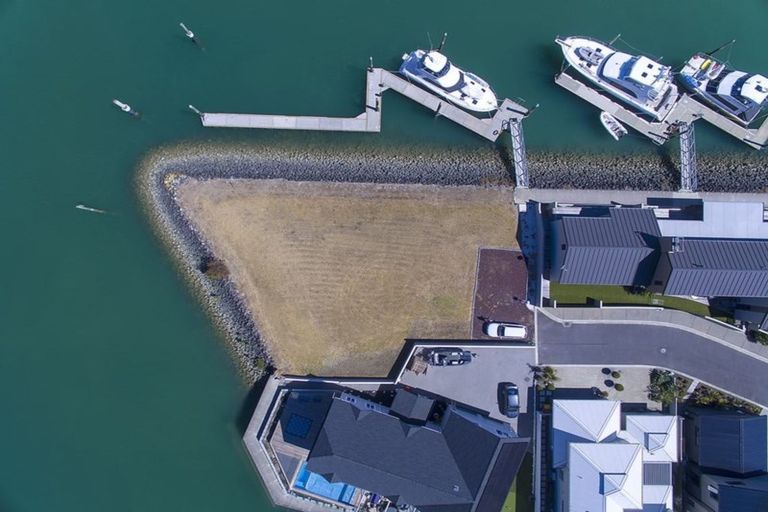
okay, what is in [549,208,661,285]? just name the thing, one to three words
house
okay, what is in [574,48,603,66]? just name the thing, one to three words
boat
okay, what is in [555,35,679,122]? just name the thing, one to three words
boat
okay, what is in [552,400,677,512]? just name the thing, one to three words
house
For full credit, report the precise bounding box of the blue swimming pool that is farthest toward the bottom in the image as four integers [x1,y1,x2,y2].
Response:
[290,466,371,512]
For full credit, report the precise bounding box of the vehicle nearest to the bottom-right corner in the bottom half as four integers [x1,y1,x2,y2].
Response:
[502,382,521,418]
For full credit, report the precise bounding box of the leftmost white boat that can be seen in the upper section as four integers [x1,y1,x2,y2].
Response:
[399,32,502,113]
